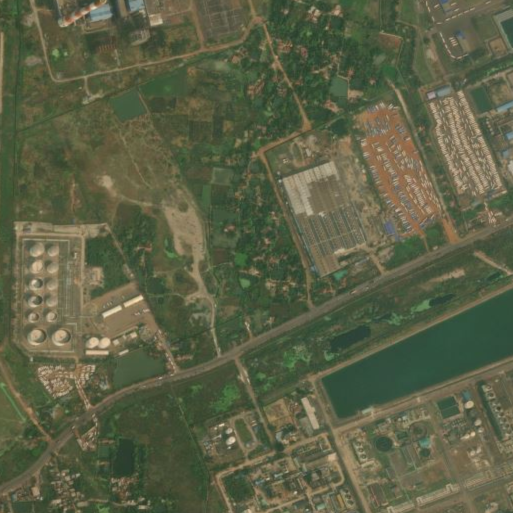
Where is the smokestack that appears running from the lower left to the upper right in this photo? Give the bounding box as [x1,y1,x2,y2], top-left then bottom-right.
[57,0,93,29]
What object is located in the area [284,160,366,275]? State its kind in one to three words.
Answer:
building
